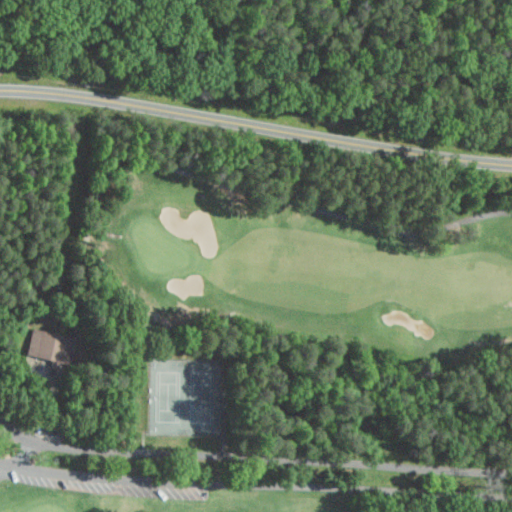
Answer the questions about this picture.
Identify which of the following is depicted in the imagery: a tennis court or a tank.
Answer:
tennis court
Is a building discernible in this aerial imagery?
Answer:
Yes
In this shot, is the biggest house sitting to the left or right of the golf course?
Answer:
to its left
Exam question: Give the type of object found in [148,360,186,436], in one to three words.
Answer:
tennis court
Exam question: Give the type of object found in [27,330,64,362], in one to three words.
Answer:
house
